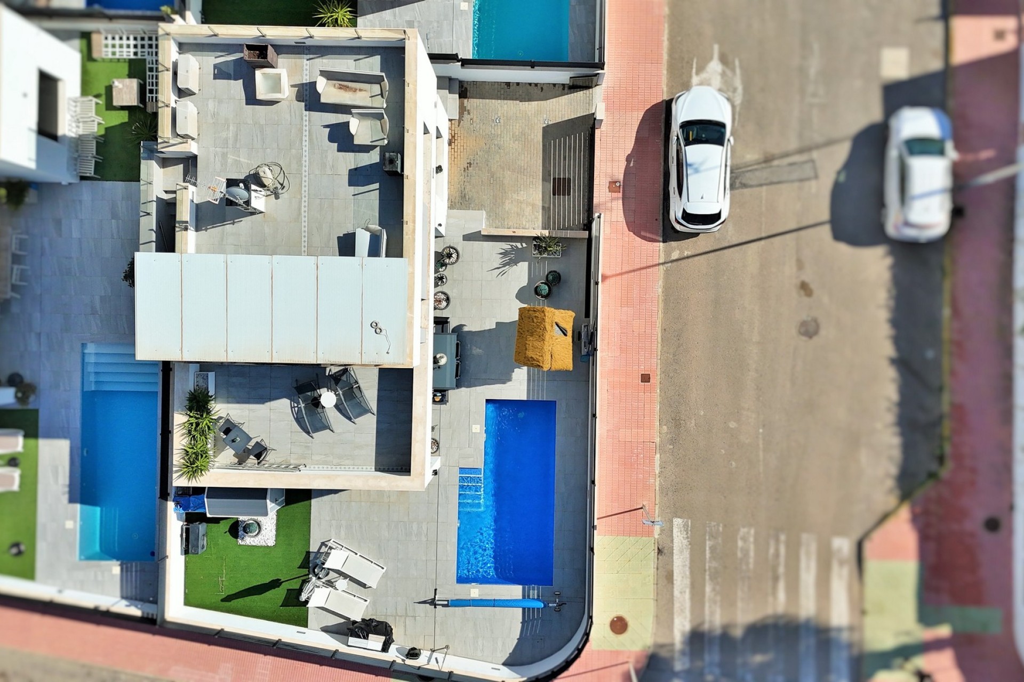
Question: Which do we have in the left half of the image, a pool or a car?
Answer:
pool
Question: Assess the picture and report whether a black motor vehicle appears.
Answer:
No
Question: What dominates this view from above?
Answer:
paved ground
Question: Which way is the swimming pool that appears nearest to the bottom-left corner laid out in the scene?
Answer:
from top to bottom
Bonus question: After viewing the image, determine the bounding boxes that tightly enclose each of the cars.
[668,86,739,232]
[884,104,962,243]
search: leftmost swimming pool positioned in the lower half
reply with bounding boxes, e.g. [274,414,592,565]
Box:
[77,342,158,562]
